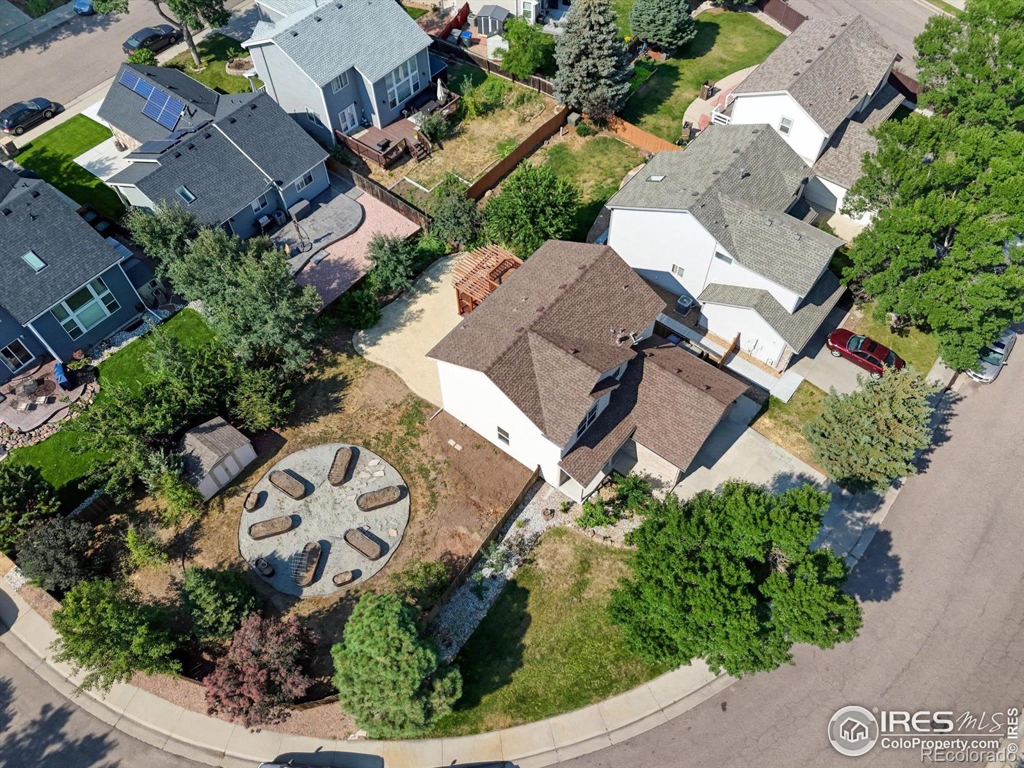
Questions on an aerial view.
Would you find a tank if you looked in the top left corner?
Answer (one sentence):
No, no tank can be made out in the top left corner.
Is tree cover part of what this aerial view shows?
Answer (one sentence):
Yes, there's tree cover in this view.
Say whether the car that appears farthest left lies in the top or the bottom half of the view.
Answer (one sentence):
The car that appears farthest left sits in the top half of the picture.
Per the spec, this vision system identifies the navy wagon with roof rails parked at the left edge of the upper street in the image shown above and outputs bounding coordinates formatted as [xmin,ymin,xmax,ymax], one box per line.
[0,95,55,135]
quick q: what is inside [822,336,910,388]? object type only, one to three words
car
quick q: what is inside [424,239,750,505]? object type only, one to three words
house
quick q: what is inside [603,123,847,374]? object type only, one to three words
house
